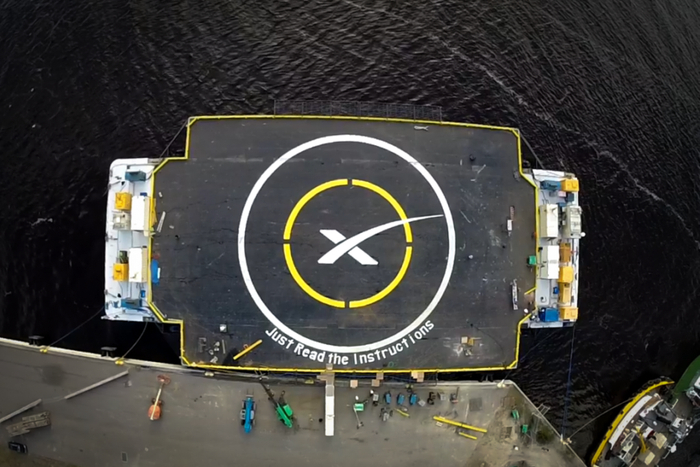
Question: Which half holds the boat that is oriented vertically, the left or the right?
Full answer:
You can find the boat that is oriented vertically on the right side of the picture.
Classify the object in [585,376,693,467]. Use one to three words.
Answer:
boat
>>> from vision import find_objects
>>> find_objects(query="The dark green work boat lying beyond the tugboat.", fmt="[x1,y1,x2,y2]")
[672,353,700,416]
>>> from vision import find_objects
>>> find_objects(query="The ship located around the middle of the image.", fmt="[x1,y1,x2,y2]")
[100,101,582,373]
